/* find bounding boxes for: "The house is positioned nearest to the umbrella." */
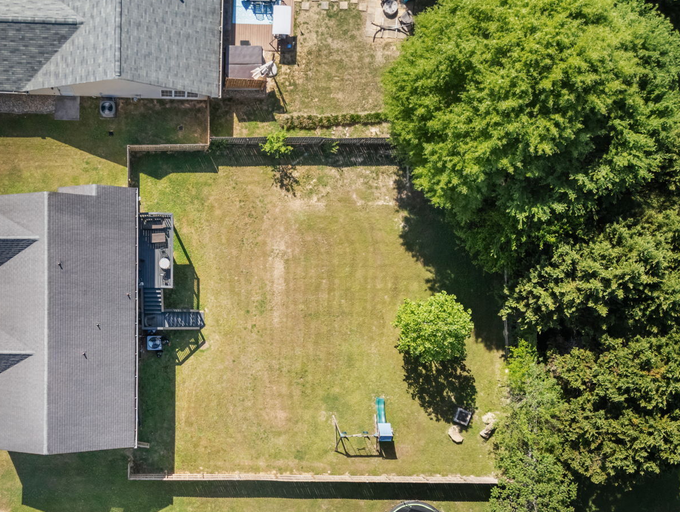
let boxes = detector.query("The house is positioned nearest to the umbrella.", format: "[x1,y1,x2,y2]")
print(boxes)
[0,0,226,106]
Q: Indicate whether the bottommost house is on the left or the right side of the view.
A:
left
